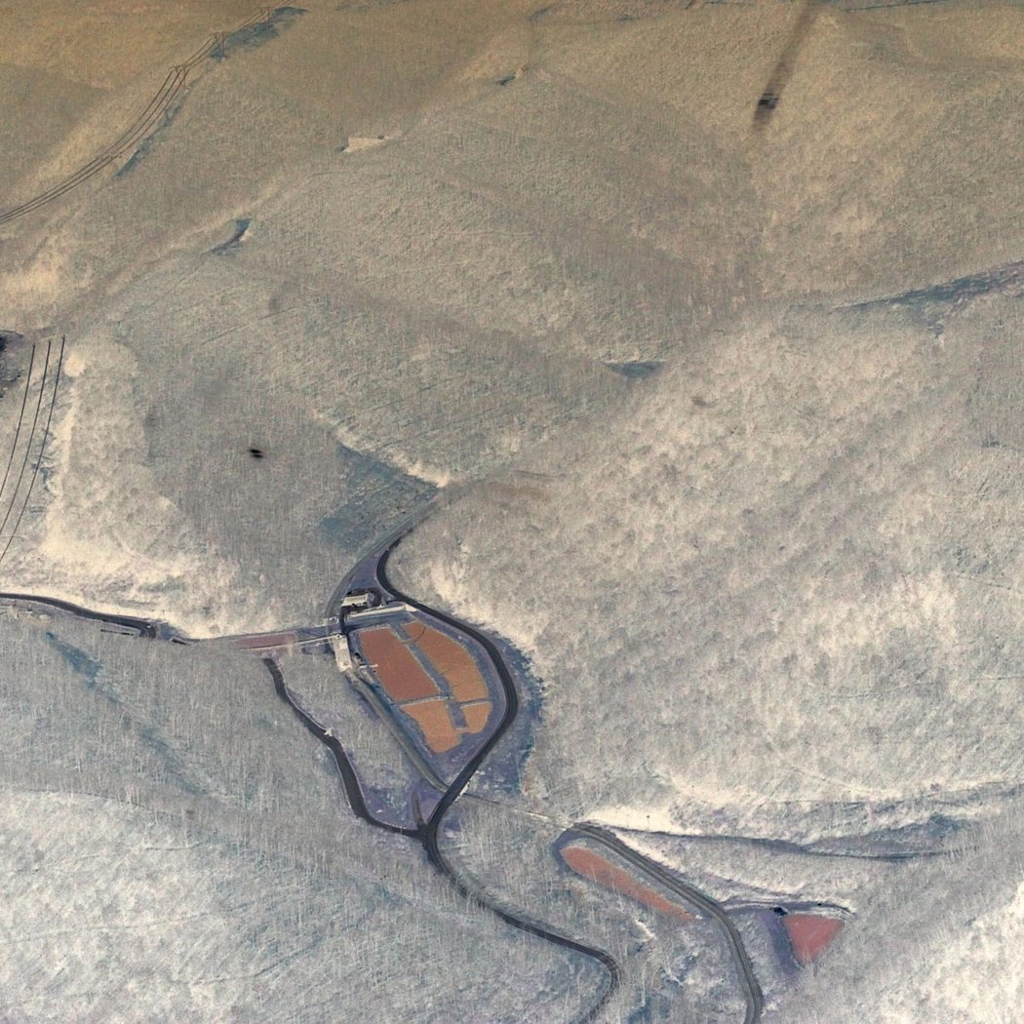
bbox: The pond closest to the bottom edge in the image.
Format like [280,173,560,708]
[783,912,846,965]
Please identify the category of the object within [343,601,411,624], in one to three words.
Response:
shed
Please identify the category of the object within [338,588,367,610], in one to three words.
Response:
building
